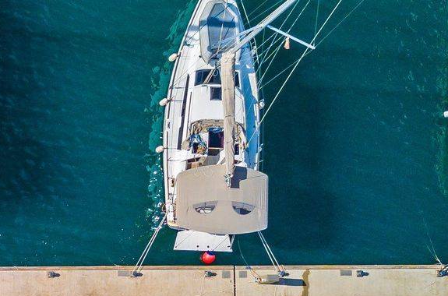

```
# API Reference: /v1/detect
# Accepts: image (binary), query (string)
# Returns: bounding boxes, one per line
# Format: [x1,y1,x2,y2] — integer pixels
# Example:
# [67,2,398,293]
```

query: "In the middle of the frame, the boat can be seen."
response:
[157,0,373,253]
